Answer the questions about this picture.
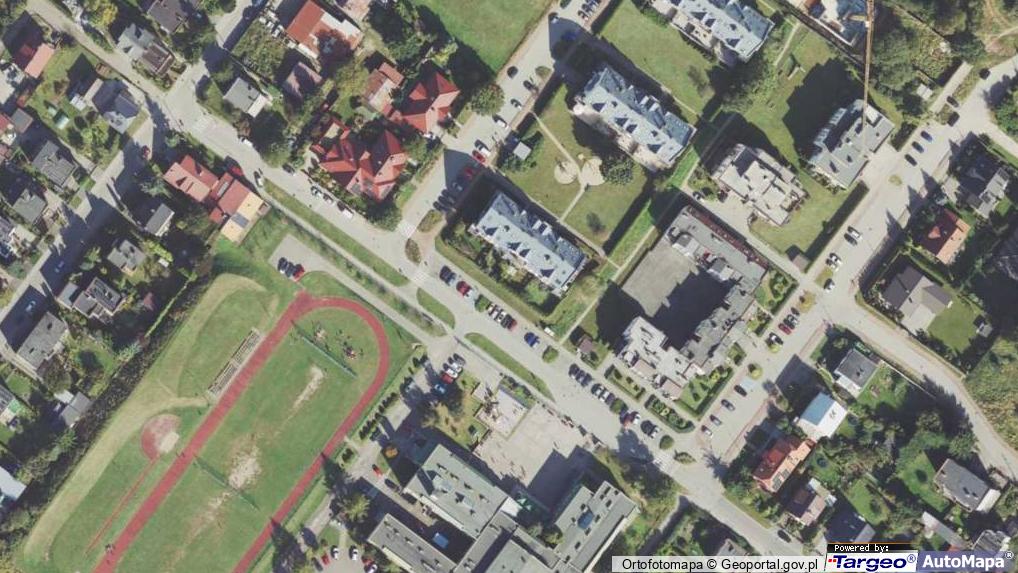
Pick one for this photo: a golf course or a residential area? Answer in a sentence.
What you see here is a residential area.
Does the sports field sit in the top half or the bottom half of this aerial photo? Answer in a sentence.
The bottom half of the photo is where the sports field is.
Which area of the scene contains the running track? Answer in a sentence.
The running track appears toward the bottom left of the photo.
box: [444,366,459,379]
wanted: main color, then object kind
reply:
white vehicle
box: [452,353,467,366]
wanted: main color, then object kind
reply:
gray vehicle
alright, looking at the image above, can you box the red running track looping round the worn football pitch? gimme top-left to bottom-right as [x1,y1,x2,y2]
[92,292,388,573]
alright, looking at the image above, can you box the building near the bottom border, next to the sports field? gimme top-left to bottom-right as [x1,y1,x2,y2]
[367,446,637,573]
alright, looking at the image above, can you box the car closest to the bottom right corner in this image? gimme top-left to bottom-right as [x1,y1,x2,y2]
[776,530,791,543]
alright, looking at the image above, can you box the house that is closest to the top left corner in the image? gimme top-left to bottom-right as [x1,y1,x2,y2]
[13,33,57,82]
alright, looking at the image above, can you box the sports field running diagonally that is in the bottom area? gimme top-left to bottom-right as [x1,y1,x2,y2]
[114,306,380,573]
